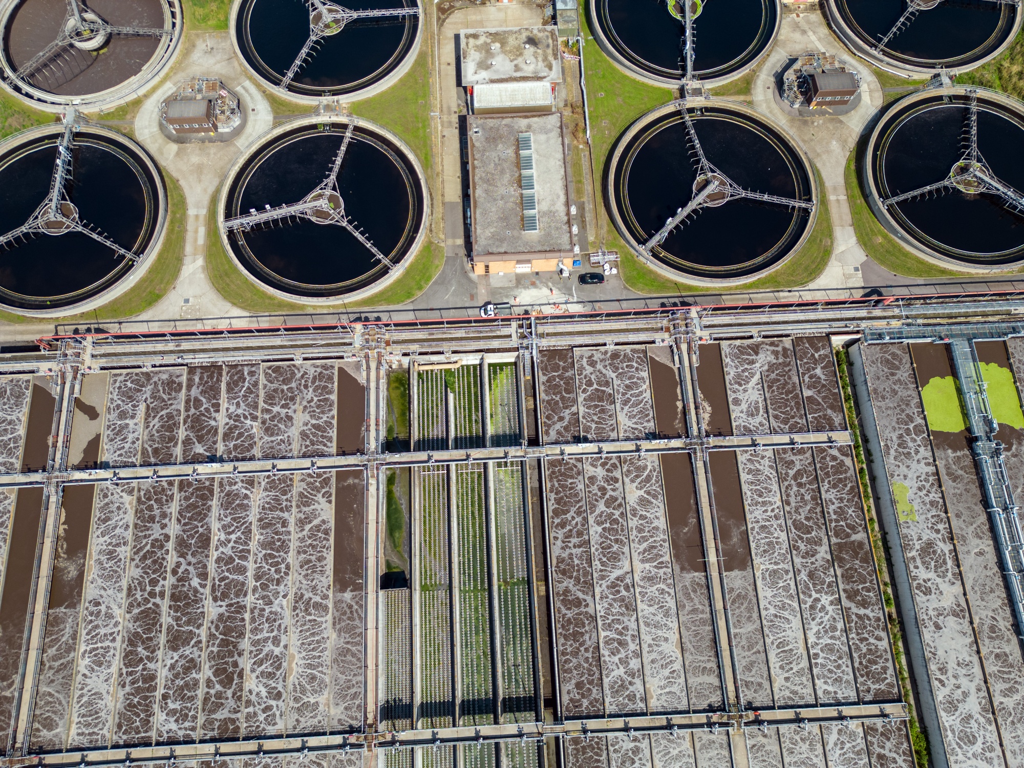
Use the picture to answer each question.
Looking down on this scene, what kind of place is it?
industrial area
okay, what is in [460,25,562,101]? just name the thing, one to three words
house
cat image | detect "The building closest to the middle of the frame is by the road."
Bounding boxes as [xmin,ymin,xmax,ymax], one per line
[468,112,574,274]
